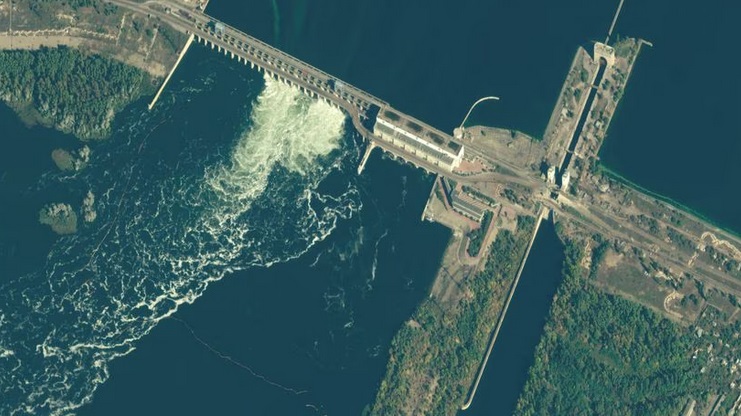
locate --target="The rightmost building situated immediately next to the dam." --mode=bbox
[365,106,470,182]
